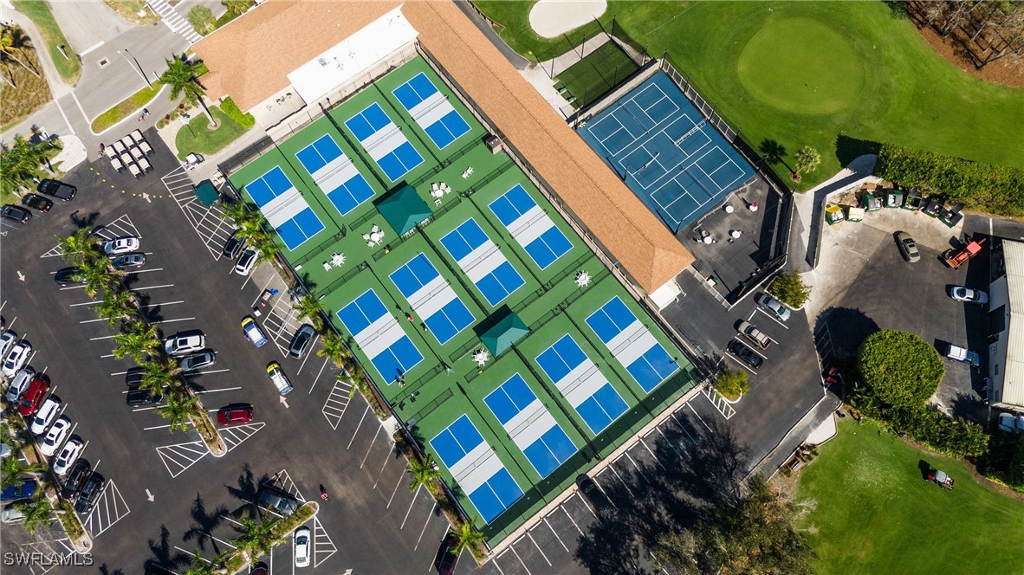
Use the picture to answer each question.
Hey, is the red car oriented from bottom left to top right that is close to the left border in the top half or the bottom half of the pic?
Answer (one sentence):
The bottom half of the photo is where the red car oriented from bottom left to top right that is close to the left border is.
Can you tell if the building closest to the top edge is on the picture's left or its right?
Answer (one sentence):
The building closest to the top edge appears in the left half of the scene.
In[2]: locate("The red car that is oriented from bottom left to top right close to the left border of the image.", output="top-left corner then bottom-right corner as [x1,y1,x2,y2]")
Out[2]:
[18,378,51,415]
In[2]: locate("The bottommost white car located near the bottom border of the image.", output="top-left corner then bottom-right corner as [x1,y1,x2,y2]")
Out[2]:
[294,527,312,567]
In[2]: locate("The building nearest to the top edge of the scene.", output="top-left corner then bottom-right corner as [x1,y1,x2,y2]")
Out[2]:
[190,0,419,117]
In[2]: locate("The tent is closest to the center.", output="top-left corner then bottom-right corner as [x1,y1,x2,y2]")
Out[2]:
[479,311,530,360]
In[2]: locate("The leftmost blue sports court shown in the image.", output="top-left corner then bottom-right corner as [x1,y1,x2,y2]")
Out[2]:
[245,165,325,251]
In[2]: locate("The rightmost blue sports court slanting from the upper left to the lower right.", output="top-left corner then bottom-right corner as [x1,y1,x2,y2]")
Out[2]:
[585,295,680,394]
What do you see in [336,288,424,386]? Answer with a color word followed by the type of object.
blue sports court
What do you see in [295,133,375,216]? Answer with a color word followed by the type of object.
blue sports court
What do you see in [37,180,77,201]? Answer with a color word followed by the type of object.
black truck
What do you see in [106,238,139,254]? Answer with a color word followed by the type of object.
white car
